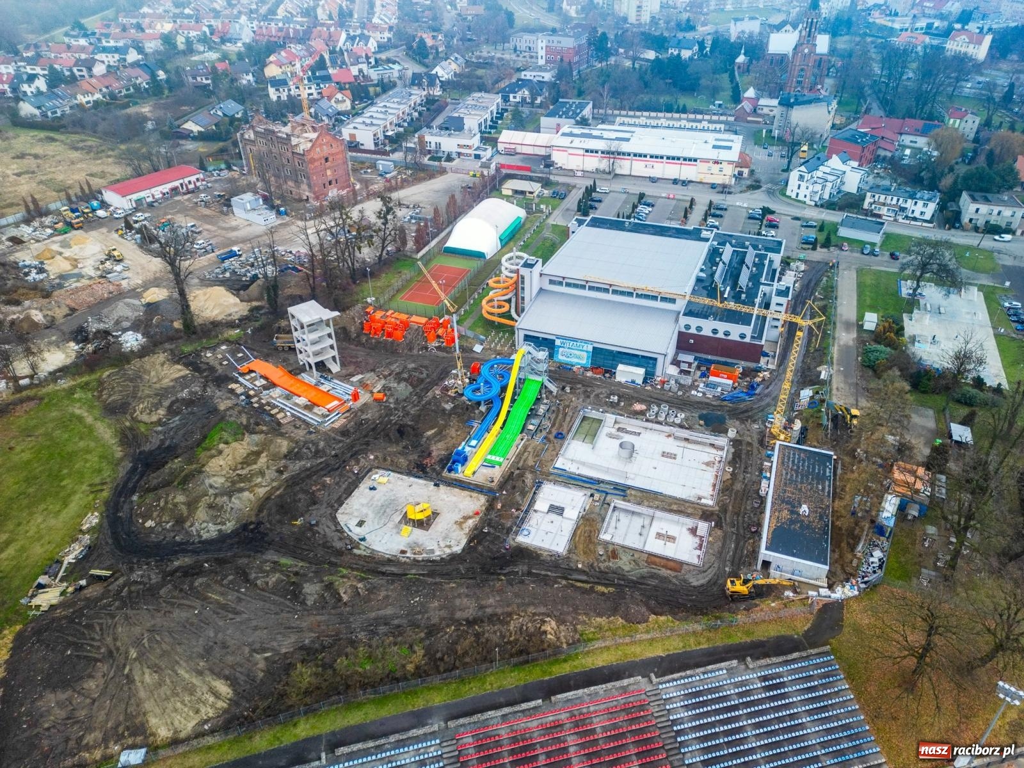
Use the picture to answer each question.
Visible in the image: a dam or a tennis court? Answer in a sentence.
I can see a tennis court in this picture.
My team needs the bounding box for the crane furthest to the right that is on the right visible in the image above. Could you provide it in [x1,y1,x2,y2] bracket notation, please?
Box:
[584,275,836,443]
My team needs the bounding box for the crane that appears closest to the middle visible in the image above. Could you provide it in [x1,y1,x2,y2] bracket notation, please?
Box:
[419,262,473,394]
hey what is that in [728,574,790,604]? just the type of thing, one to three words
work vehicle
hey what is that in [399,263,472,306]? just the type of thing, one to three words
tennis court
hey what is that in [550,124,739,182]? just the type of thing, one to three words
building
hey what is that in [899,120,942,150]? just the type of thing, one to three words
barn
